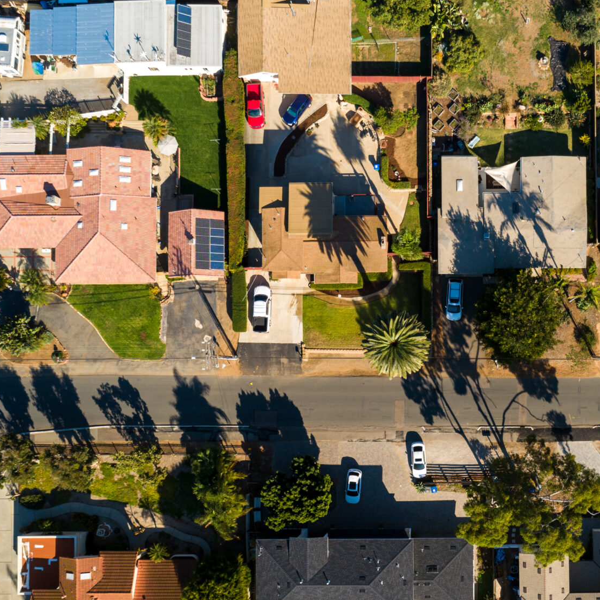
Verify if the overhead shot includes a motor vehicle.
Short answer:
Yes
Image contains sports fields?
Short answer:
No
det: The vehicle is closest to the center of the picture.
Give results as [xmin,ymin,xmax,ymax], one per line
[251,286,271,332]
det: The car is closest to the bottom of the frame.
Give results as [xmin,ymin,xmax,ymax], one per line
[344,467,363,504]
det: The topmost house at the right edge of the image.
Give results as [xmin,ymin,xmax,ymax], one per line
[437,156,587,276]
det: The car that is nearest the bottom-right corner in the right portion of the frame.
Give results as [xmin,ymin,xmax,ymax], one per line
[409,440,427,478]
